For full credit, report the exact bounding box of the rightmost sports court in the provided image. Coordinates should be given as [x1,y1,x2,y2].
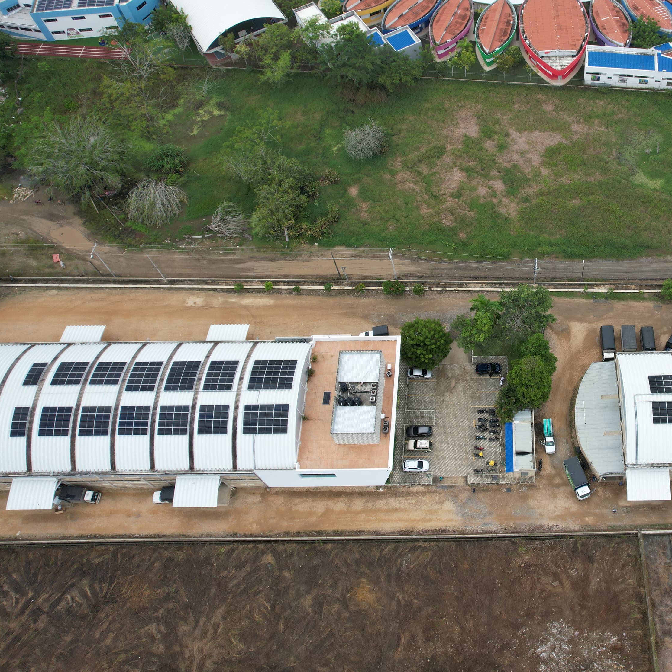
[169,1,280,66]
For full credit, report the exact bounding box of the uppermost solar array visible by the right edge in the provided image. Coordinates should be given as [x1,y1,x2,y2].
[648,374,672,392]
